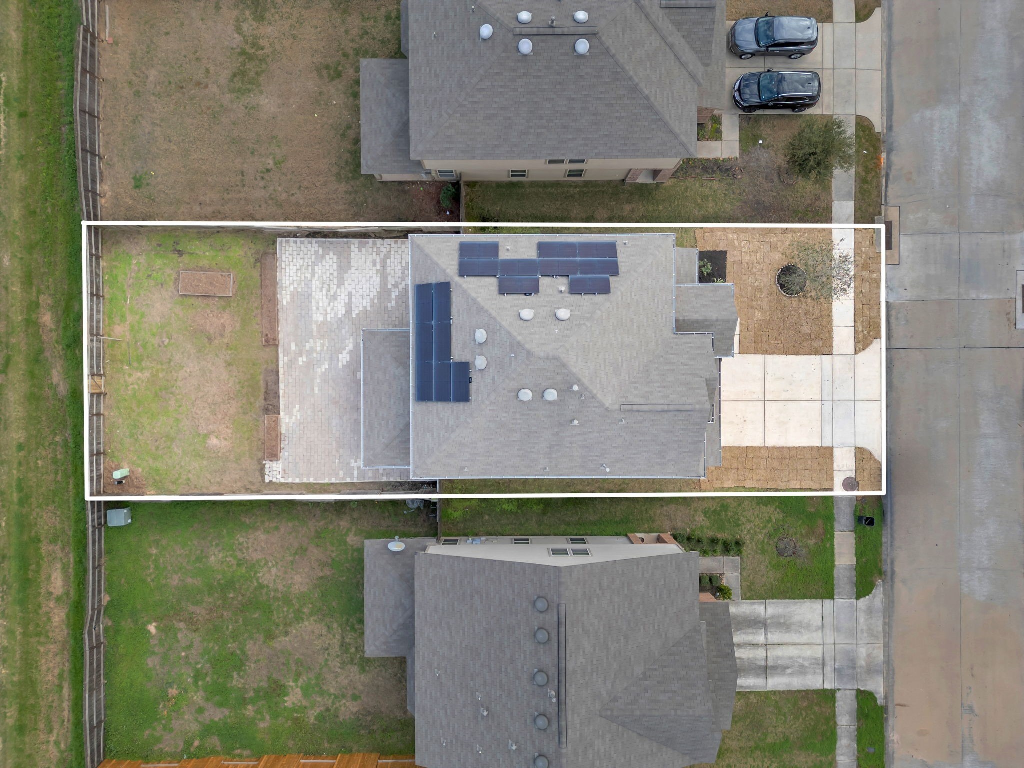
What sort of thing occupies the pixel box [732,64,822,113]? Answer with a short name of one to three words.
car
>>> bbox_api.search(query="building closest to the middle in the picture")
[361,233,737,480]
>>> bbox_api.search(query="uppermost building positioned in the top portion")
[359,0,727,185]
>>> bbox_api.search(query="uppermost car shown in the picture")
[728,9,819,59]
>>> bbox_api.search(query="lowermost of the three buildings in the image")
[363,532,738,768]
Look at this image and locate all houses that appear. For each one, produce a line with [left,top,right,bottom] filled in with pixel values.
[359,0,727,185]
[361,233,737,480]
[363,532,738,768]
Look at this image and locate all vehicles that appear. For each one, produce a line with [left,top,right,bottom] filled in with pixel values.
[732,64,822,113]
[728,9,819,59]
